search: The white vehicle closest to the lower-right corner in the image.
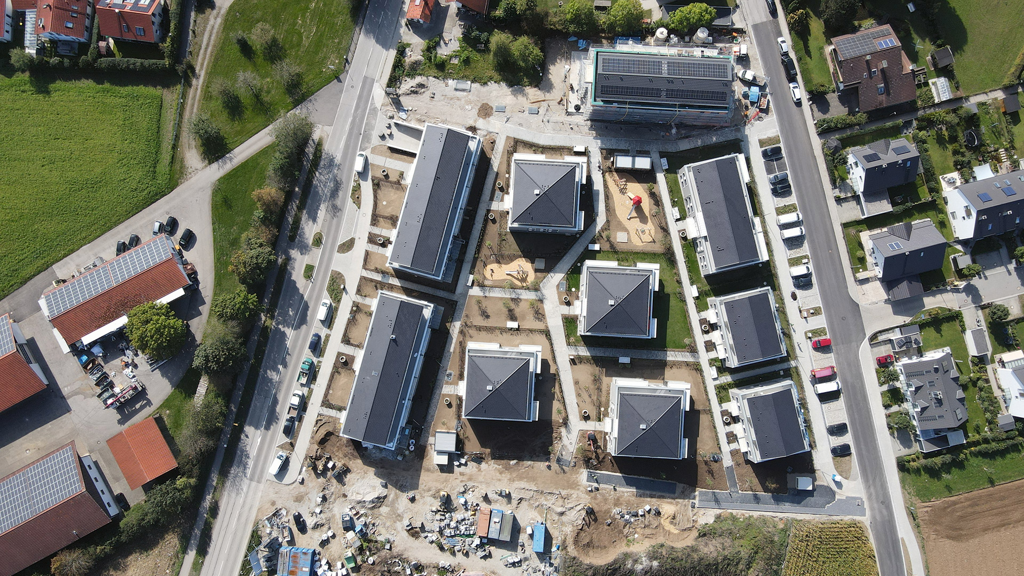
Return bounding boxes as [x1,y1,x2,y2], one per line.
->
[814,381,838,394]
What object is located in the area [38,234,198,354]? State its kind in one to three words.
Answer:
building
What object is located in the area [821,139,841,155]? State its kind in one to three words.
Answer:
gazebo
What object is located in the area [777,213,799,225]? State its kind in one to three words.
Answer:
vehicle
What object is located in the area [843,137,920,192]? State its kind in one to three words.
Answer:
house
